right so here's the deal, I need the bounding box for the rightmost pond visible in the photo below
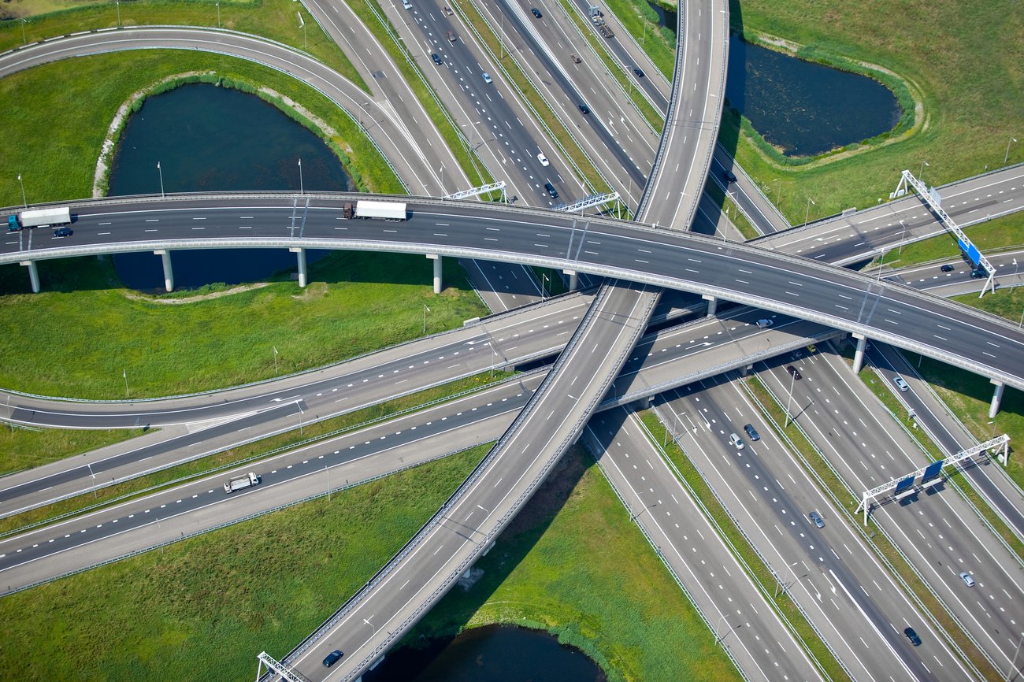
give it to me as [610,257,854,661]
[723,35,901,156]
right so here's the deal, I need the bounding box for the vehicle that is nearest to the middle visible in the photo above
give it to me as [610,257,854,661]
[545,183,558,197]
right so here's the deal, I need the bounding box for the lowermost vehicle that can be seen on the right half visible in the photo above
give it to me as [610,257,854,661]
[904,627,921,646]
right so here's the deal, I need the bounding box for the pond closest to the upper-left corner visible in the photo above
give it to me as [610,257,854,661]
[107,83,352,292]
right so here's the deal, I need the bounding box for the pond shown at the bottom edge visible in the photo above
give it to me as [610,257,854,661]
[354,624,605,682]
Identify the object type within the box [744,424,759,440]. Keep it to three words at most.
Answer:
car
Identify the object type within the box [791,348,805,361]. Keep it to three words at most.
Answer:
vehicle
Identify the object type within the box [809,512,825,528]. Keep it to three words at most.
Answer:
car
